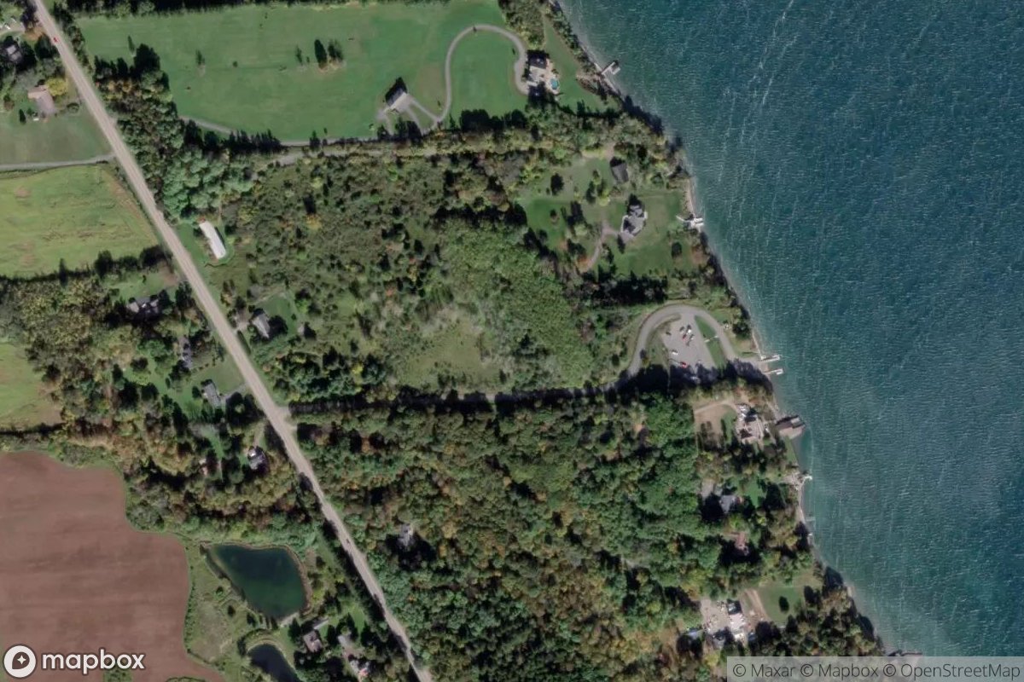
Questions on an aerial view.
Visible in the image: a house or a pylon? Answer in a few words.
house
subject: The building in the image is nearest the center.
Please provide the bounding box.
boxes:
[622,206,648,242]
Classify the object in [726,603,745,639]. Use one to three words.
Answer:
house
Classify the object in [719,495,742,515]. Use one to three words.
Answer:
house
